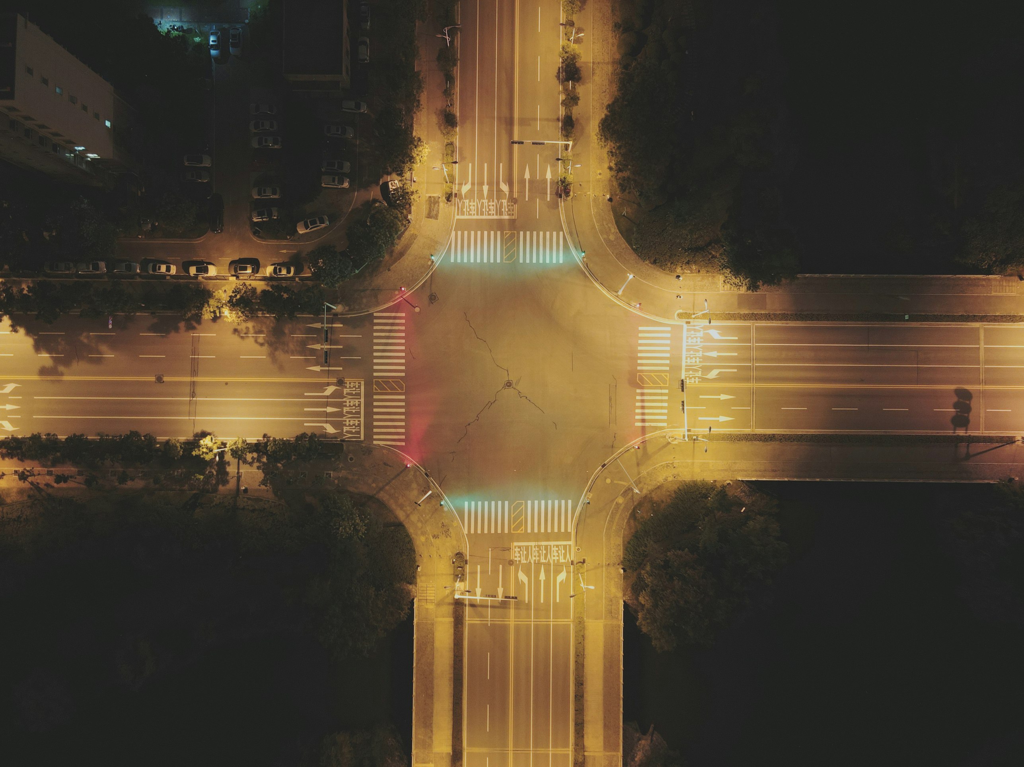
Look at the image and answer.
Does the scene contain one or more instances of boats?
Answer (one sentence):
No, the frame has no boat in it.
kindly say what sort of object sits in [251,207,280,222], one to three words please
car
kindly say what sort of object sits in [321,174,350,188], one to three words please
car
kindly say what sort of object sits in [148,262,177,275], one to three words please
vehicle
